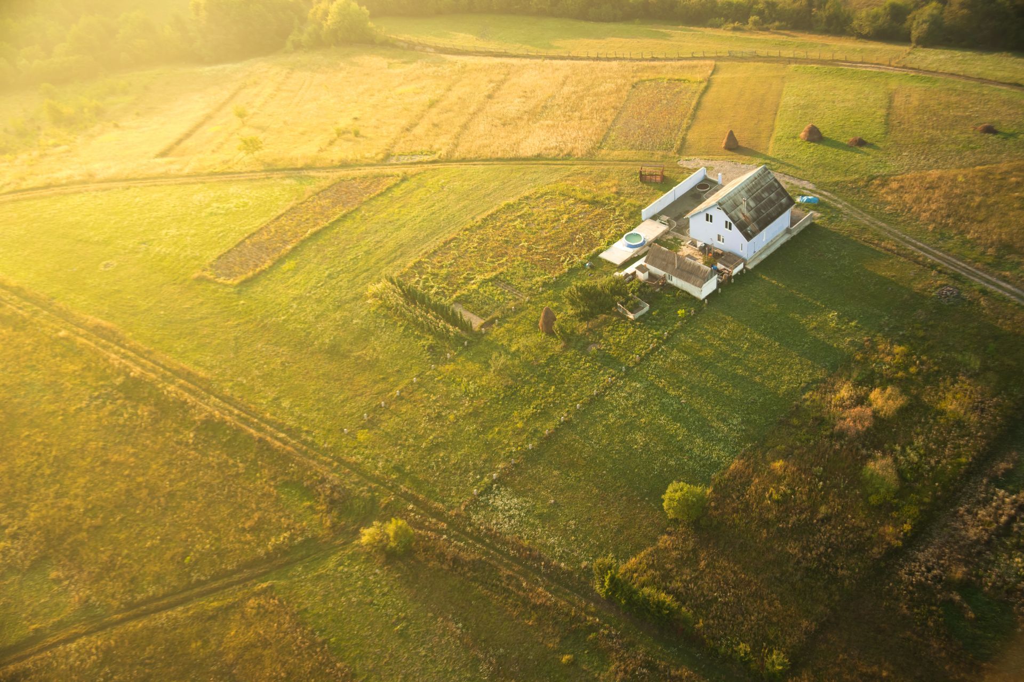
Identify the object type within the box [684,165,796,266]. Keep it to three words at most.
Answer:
house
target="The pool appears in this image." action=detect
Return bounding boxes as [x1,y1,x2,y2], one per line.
[619,232,646,251]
